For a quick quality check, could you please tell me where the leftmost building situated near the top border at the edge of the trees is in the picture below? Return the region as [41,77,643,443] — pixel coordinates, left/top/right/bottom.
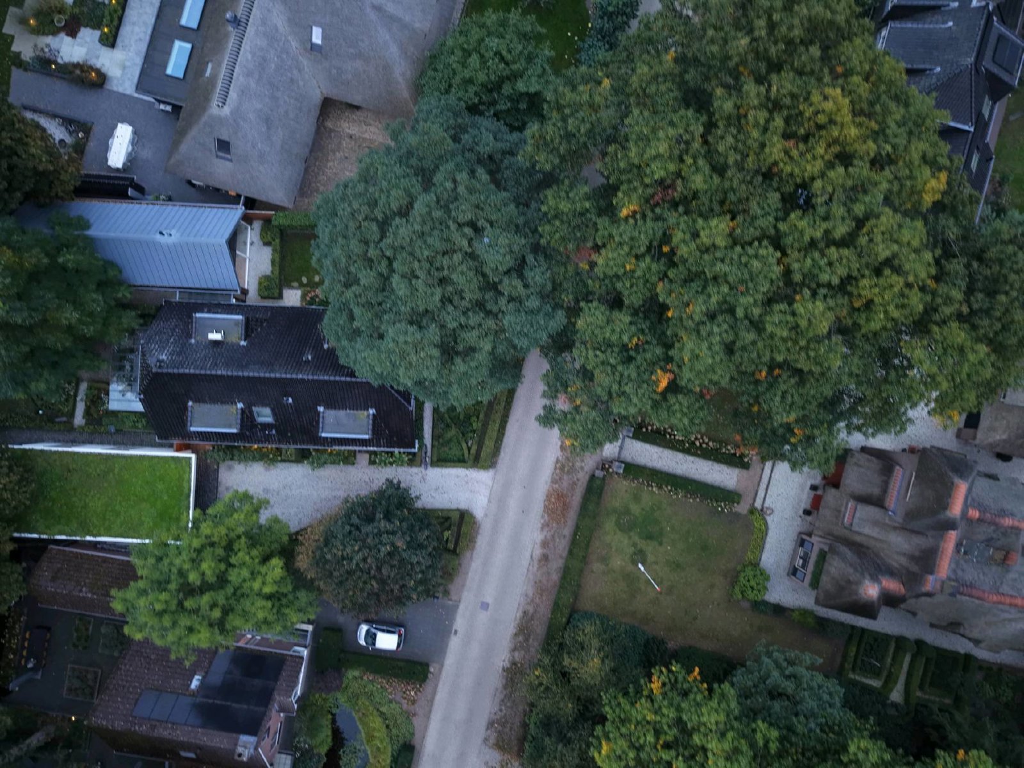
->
[136,0,454,207]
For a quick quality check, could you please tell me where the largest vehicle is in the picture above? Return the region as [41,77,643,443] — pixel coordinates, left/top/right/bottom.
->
[355,624,404,655]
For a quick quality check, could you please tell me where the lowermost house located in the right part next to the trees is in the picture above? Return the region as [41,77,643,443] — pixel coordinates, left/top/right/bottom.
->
[804,440,1024,659]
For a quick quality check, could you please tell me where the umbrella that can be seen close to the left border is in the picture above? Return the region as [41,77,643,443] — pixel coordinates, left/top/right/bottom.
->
[10,669,44,689]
